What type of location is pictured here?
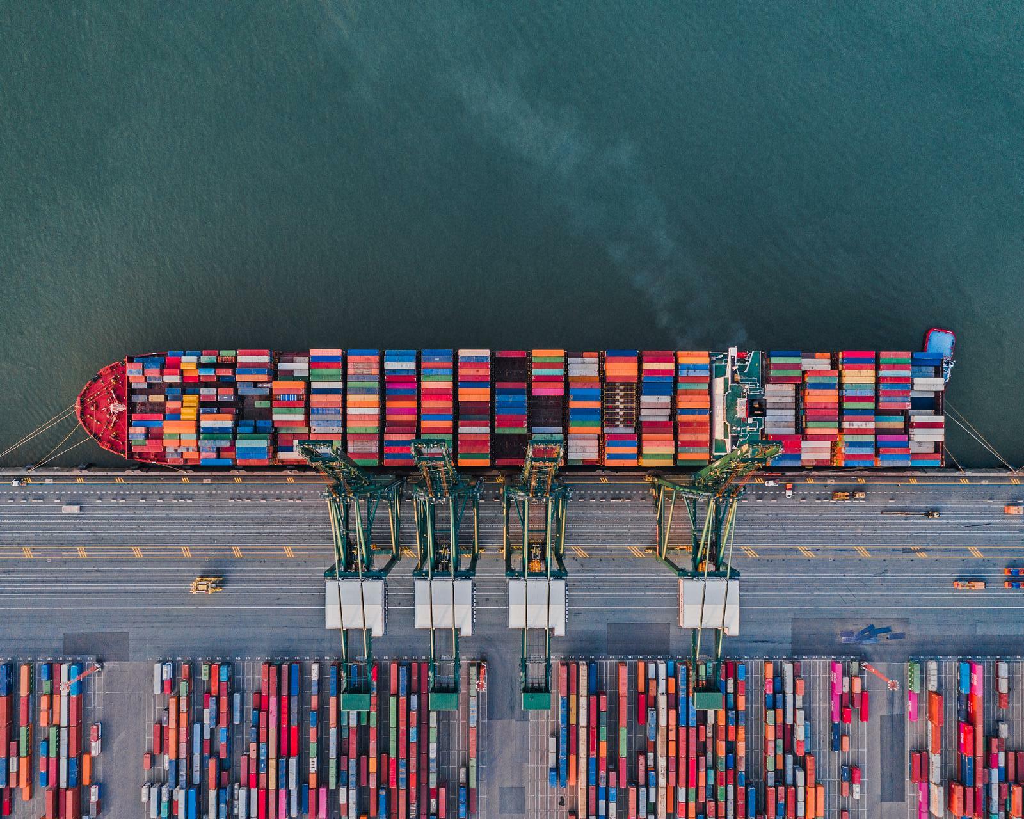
port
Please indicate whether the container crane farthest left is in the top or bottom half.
bottom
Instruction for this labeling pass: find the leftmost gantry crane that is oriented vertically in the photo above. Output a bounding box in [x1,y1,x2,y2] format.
[298,439,414,713]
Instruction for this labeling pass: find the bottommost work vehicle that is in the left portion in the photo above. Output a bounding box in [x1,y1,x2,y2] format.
[190,574,225,594]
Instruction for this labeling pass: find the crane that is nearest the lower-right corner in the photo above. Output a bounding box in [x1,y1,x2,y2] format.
[638,439,785,713]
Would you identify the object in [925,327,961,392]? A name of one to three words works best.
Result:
boat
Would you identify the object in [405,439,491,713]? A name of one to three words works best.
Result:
container crane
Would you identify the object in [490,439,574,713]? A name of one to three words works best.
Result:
container crane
